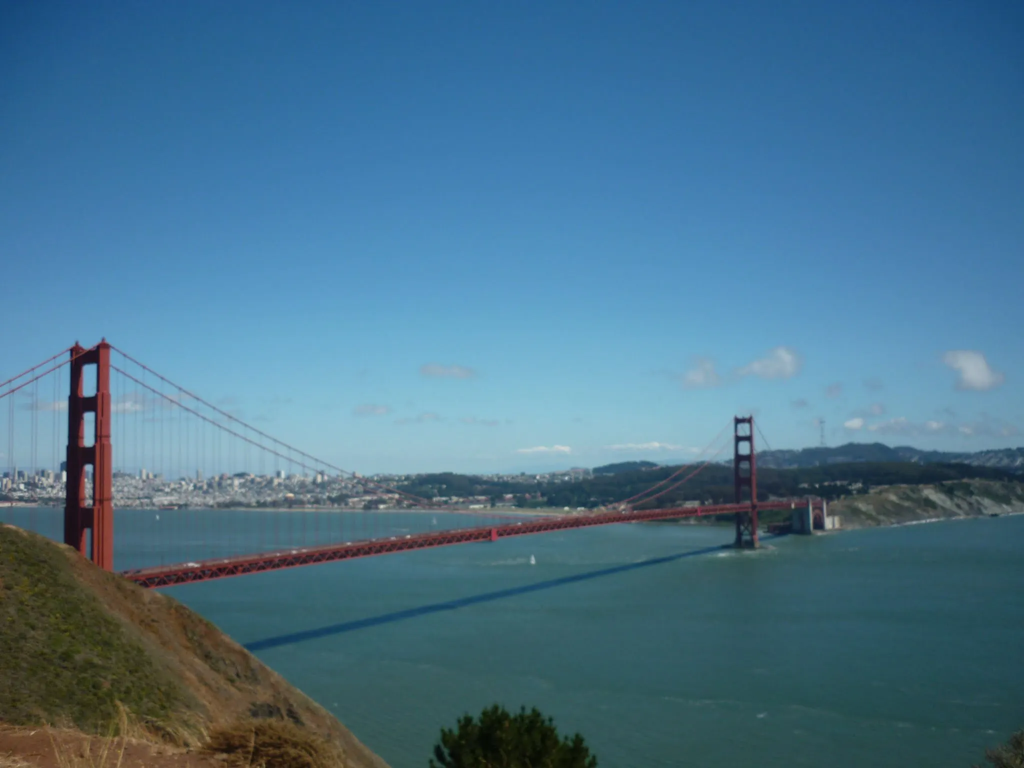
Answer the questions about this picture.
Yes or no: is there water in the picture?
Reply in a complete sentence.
Yes, water shows up in the scene.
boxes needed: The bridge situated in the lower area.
[0,333,833,590]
